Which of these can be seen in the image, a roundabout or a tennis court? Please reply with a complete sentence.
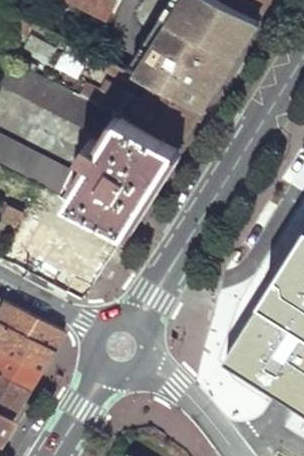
I can see a roundabout in this picture.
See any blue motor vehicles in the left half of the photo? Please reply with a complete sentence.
No, I see no blue motor vehicle in the left half of the photo.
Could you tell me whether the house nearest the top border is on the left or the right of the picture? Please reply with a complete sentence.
It is on the left.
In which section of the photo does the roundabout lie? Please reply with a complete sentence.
The roundabout appears toward the bottom of the photo.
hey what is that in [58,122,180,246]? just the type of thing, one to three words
building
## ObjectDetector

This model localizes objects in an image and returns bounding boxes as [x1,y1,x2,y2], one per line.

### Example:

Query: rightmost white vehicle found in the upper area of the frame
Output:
[292,150,304,172]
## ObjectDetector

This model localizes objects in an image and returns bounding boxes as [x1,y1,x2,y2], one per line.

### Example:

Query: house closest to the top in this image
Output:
[64,0,110,22]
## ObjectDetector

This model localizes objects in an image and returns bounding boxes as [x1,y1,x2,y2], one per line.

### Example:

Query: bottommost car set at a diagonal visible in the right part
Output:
[228,248,245,267]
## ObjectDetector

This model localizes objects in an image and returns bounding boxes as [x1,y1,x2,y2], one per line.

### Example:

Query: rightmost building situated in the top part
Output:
[130,0,266,119]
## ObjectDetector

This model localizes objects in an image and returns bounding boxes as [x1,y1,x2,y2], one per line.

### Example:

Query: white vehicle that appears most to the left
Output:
[28,418,48,433]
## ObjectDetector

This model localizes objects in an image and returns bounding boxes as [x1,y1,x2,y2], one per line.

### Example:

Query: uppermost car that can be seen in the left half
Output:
[100,306,120,319]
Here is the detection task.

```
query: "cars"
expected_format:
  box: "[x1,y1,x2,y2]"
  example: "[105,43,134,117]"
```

[292,150,304,172]
[228,248,245,267]
[45,430,61,450]
[246,224,264,246]
[185,172,201,192]
[100,306,120,319]
[28,418,48,433]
